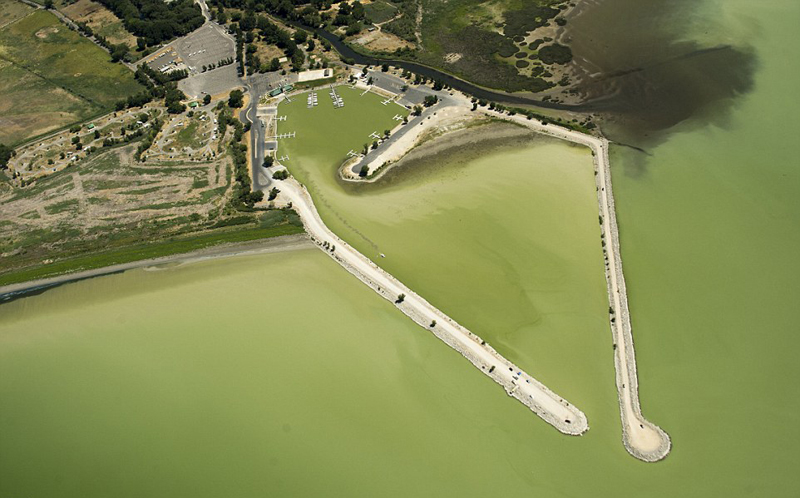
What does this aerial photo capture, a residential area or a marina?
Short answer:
marina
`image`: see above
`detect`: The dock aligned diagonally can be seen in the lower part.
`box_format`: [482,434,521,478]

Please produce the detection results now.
[270,177,589,436]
